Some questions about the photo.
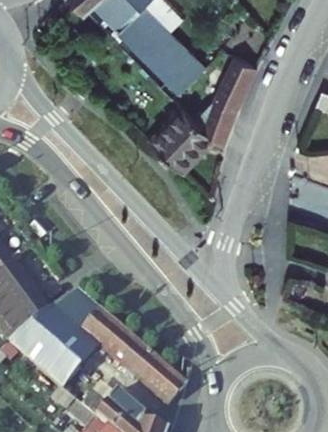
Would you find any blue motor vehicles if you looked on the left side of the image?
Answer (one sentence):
No, no blue motor vehicle appears on the left side of the image.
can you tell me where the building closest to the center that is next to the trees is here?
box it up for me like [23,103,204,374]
[149,118,210,178]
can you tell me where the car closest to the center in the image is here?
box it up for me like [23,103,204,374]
[69,178,88,199]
